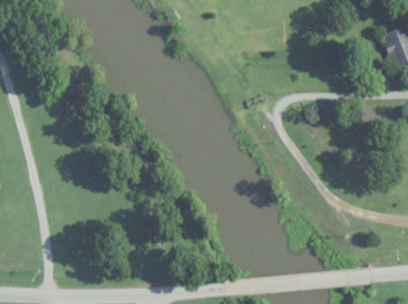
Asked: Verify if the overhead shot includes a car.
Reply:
No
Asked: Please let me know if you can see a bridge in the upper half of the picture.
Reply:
No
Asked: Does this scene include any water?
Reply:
Yes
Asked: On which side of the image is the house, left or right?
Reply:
right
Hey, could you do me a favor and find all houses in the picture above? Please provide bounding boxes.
[384,27,408,65]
